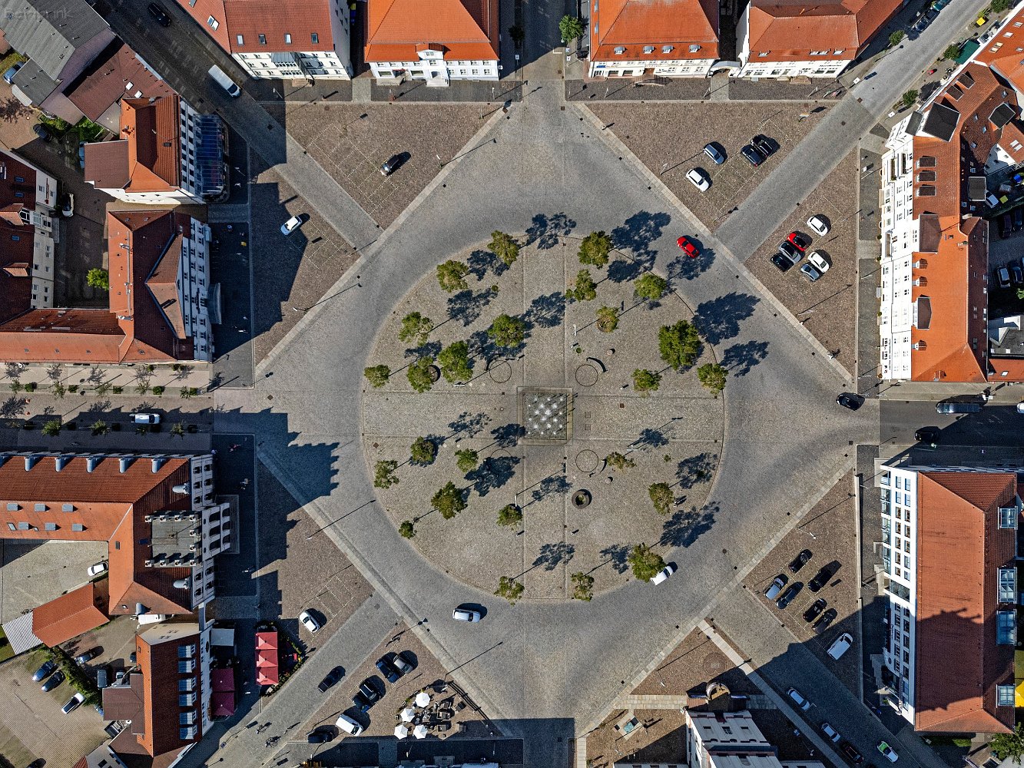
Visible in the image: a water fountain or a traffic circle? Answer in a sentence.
There is a water fountain in the scene.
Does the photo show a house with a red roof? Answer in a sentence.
Yes, I can see a house with a red roof in this picture.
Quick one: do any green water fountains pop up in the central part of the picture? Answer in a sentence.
No, no green water fountain is visible in the central part of the picture.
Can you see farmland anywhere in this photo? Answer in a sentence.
No, there is no farmland in the image.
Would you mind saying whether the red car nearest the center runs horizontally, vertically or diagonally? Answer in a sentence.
The red car nearest the center runs diagonally in the image.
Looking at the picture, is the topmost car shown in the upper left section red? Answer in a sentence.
No, from above the topmost car shown in the upper left section looks black.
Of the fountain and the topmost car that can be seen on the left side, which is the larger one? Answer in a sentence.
The car is smaller than the fountain.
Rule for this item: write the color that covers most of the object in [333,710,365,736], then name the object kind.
white vehicle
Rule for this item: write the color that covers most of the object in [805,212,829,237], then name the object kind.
white car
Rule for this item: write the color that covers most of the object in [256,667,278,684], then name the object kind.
red umbrella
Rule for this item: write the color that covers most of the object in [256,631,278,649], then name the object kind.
red umbrella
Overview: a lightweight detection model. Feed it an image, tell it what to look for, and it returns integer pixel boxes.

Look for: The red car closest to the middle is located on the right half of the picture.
[674,235,701,259]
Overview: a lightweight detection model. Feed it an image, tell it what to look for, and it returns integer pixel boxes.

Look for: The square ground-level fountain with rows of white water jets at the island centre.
[517,387,573,445]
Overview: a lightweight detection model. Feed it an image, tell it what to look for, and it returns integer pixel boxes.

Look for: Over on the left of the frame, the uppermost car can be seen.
[145,1,174,29]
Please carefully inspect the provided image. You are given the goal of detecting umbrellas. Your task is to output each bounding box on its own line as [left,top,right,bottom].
[212,692,235,716]
[401,704,415,721]
[256,631,278,649]
[256,649,278,667]
[415,689,431,707]
[212,668,235,691]
[256,667,278,684]
[413,721,428,738]
[394,721,408,738]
